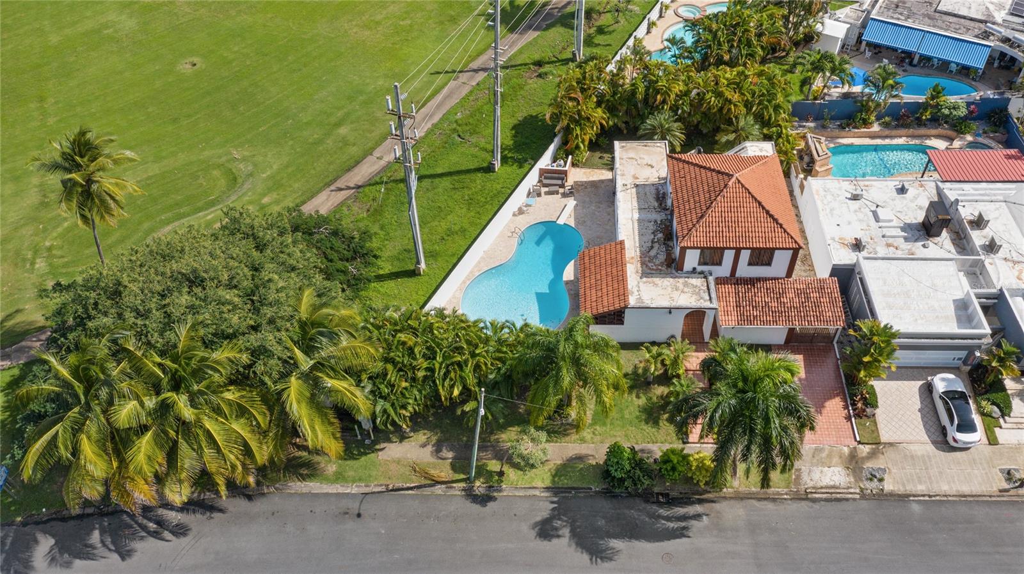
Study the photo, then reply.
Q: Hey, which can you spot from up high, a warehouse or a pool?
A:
pool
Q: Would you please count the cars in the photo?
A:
1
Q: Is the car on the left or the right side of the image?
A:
right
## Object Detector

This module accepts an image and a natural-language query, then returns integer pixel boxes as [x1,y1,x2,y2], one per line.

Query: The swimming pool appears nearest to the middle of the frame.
[458,218,587,334]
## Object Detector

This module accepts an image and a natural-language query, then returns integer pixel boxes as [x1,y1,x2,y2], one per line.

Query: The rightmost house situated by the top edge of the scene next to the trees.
[858,0,1024,100]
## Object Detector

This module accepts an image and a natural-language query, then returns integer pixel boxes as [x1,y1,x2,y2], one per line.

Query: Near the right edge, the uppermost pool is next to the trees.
[858,72,981,96]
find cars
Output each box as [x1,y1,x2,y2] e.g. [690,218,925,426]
[934,371,986,446]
